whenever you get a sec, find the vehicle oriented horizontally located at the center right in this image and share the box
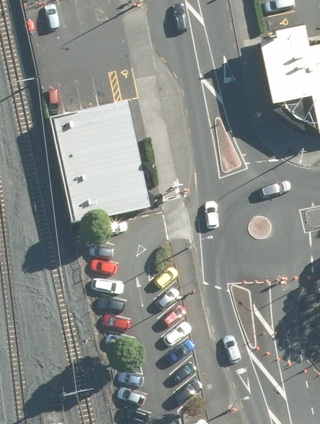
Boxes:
[262,179,292,196]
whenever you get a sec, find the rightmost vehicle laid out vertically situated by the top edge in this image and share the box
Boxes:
[172,2,187,32]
